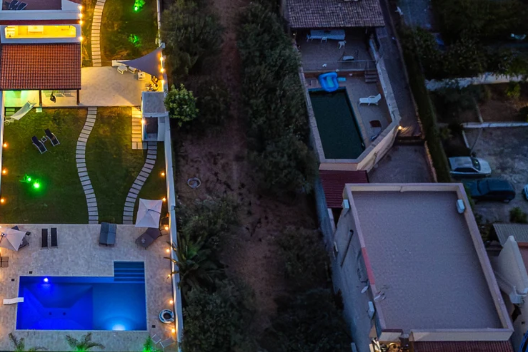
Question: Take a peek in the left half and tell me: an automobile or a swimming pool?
swimming pool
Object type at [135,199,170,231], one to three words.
umbrella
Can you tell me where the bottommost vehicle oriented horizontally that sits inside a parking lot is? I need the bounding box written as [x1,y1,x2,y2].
[464,177,519,203]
